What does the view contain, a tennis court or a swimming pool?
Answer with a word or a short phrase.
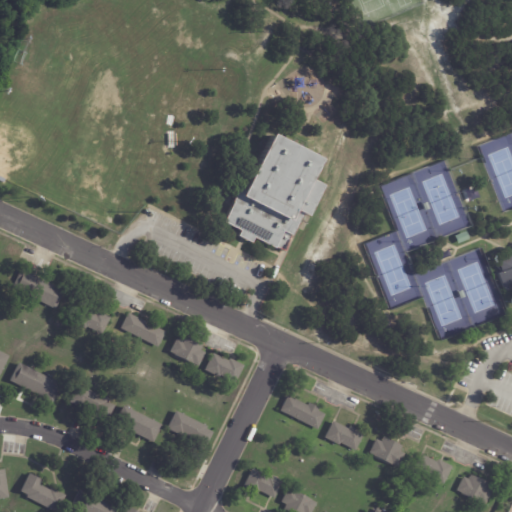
tennis court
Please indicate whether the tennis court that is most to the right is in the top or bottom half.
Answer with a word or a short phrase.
top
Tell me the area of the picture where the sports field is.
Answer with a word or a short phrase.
top left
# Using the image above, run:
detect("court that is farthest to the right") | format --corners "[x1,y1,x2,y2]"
[480,132,512,212]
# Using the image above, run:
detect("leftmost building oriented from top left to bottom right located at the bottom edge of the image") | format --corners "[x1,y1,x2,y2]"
[20,470,68,512]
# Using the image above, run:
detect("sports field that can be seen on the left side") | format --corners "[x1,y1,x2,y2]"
[0,2,240,230]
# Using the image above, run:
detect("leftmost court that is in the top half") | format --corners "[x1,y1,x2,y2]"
[353,0,391,22]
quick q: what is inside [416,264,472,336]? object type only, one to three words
tennis court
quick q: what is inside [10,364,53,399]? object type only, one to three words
house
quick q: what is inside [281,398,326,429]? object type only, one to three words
house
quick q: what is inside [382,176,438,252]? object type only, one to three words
tennis court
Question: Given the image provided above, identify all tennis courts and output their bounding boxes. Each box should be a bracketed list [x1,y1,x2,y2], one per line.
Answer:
[382,176,438,252]
[366,232,420,305]
[412,163,469,238]
[480,132,512,212]
[353,0,391,22]
[416,264,472,336]
[448,250,501,323]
